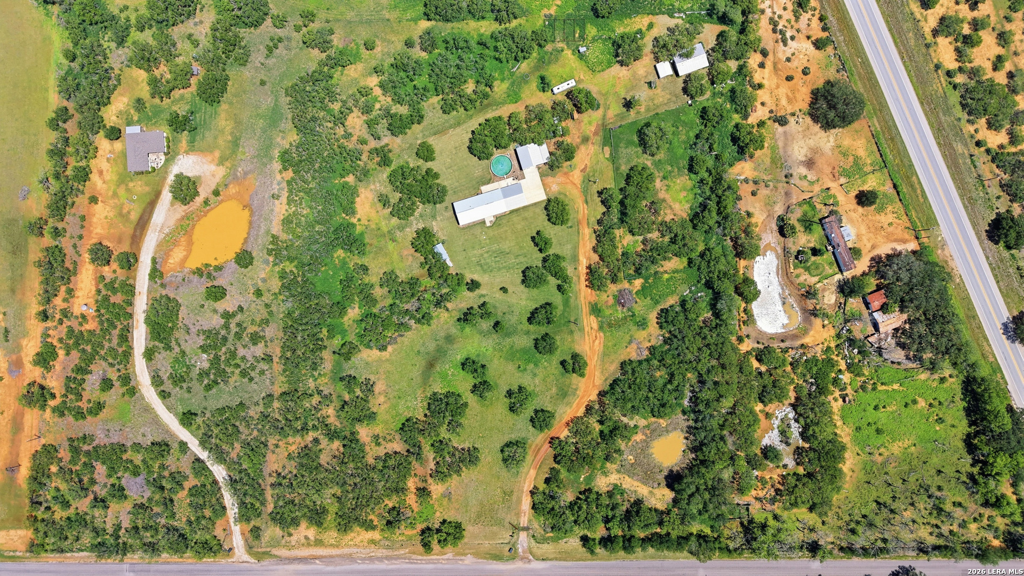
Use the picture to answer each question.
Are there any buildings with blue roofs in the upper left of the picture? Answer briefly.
No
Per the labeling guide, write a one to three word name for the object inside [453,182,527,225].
house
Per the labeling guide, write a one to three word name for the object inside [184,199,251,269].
pond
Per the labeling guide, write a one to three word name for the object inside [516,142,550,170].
building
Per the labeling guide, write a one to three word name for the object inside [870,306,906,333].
barn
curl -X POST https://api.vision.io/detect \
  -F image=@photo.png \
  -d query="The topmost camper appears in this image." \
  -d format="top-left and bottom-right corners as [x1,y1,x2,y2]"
[552,79,576,96]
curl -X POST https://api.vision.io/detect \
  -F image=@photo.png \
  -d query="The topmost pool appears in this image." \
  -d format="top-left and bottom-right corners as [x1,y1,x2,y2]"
[490,153,513,178]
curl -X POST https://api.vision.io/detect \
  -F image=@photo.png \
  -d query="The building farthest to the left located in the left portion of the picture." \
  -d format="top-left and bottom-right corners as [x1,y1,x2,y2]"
[123,125,168,172]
